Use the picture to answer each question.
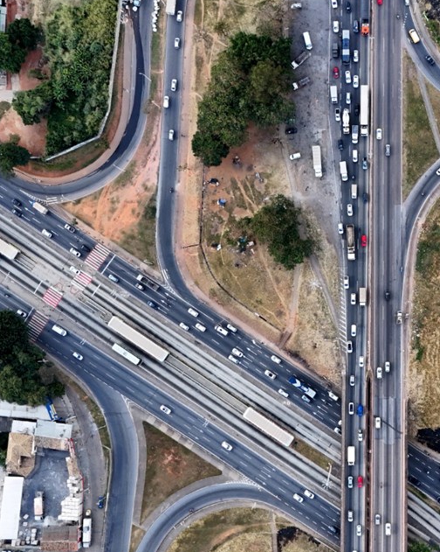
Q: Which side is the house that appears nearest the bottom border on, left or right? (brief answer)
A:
left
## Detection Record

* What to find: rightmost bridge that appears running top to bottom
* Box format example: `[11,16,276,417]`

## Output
[371,0,407,552]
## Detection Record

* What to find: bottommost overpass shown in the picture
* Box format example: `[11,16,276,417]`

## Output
[343,340,368,552]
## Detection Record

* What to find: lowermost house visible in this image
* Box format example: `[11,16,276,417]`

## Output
[39,522,80,551]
